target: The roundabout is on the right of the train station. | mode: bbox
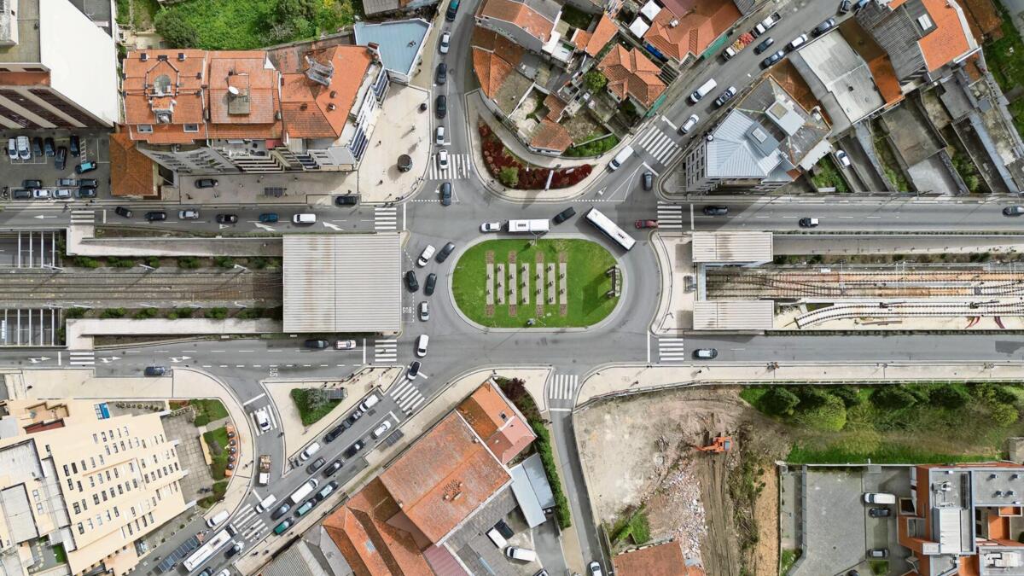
[447,233,628,332]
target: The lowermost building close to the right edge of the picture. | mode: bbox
[894,463,1024,576]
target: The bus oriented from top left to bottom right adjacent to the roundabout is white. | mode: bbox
[582,205,638,253]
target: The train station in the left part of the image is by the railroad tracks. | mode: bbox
[280,233,403,333]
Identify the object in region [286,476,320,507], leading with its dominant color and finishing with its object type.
white truck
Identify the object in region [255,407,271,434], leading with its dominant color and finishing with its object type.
white vehicle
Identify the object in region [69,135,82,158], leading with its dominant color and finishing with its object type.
black vehicle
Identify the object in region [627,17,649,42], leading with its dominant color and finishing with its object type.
white gazebo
